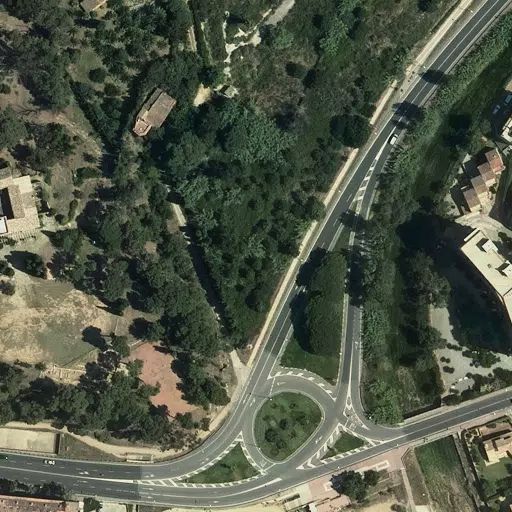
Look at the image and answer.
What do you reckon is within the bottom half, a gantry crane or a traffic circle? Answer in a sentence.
Visible within the bottom half is a traffic circle.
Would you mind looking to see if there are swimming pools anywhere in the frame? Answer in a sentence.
No, no swimming pool is visible in the view.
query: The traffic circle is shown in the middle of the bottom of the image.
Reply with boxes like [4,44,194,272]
[248,380,334,473]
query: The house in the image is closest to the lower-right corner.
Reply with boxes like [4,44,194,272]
[483,432,512,466]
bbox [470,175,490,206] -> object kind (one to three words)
house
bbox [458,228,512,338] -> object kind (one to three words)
building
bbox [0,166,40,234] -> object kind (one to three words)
house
